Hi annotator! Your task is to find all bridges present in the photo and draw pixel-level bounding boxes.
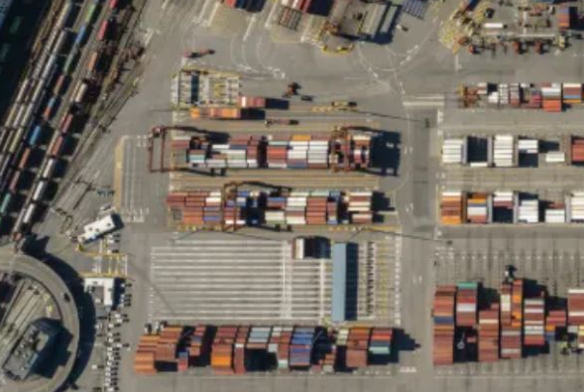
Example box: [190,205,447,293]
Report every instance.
[0,252,81,392]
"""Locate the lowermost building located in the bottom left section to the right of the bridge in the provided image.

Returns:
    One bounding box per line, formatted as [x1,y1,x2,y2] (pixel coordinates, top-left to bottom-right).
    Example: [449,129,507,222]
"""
[84,276,117,305]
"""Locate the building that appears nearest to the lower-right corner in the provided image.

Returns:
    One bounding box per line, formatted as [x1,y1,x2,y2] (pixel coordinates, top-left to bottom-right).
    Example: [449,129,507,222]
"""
[331,241,347,321]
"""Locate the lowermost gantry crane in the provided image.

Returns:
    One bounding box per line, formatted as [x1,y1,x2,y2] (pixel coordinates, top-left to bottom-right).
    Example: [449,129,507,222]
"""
[221,178,251,229]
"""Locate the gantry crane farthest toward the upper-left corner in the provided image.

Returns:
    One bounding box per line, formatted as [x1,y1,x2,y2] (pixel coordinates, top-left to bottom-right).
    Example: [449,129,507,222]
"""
[147,123,179,172]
